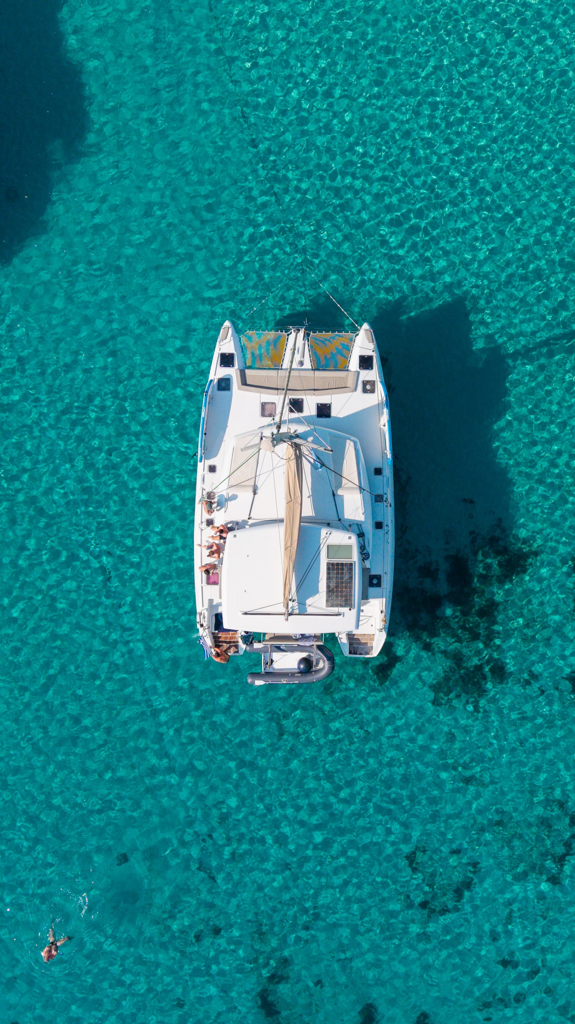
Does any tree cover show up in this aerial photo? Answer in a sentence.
No, there is no tree cover in the image.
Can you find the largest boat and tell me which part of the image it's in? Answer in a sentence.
The largest boat sits in the center section of the image.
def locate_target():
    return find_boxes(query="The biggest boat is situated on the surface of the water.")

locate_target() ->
[194,318,395,669]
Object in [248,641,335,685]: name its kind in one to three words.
boat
